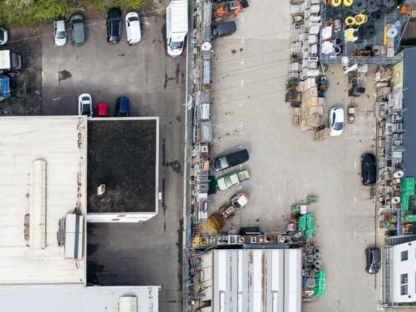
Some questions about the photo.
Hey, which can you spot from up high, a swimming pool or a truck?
truck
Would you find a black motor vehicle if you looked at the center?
Yes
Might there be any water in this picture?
No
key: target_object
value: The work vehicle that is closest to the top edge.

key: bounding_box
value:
[211,0,249,22]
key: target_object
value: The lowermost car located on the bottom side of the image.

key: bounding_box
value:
[361,242,381,277]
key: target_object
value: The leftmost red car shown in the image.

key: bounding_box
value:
[93,98,108,117]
